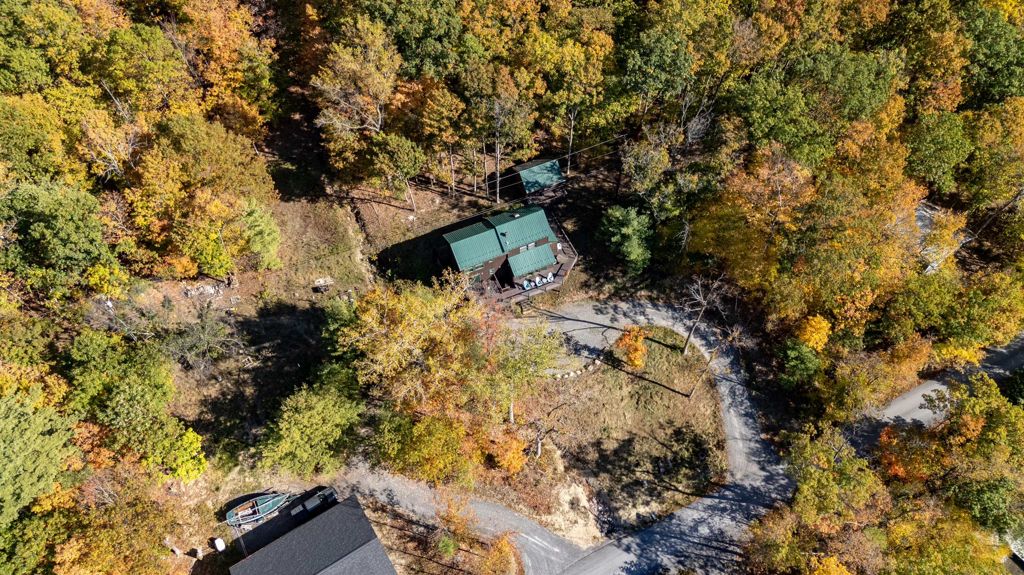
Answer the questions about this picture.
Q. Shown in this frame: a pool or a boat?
boat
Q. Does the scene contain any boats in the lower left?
Yes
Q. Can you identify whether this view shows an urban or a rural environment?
rural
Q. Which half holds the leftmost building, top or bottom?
bottom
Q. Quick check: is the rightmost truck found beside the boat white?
No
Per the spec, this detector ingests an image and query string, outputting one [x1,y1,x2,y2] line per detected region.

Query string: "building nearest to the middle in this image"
[432,204,578,319]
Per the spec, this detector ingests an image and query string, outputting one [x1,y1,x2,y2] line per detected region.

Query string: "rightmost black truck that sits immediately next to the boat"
[288,485,342,525]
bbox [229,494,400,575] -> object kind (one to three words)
building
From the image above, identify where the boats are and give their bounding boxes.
[214,490,299,527]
